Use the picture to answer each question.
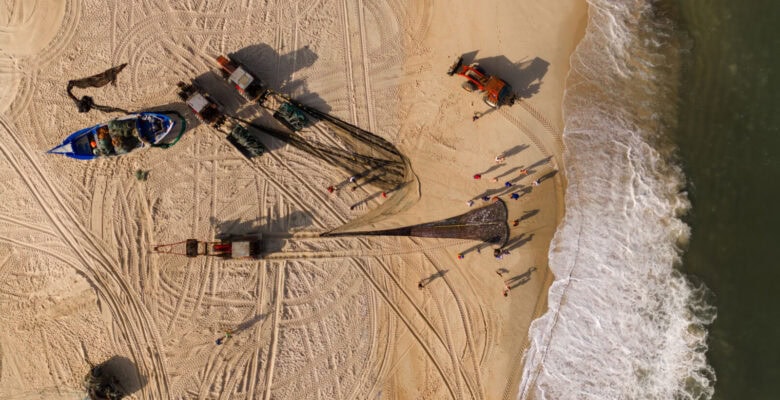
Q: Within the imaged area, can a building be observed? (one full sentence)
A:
No, no building is visible in the scene.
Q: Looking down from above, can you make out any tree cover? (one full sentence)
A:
No, there's no tree cover in this view.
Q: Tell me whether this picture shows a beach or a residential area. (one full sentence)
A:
This looks like a beach.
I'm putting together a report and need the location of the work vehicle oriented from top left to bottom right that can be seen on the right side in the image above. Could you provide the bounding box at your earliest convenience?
[446,59,515,117]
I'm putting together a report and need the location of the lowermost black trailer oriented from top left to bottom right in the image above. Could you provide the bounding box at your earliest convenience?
[224,123,265,160]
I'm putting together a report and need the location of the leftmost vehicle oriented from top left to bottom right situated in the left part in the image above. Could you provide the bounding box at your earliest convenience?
[176,81,230,126]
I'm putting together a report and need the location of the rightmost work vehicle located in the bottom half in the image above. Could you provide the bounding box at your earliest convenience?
[217,232,270,260]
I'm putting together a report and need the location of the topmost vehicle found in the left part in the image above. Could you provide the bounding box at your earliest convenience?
[222,60,270,104]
